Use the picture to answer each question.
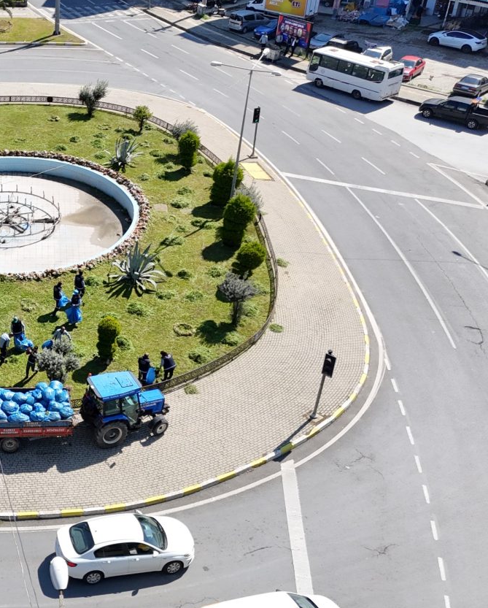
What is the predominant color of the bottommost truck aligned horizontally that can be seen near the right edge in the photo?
black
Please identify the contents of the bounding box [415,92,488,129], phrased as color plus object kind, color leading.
black truck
